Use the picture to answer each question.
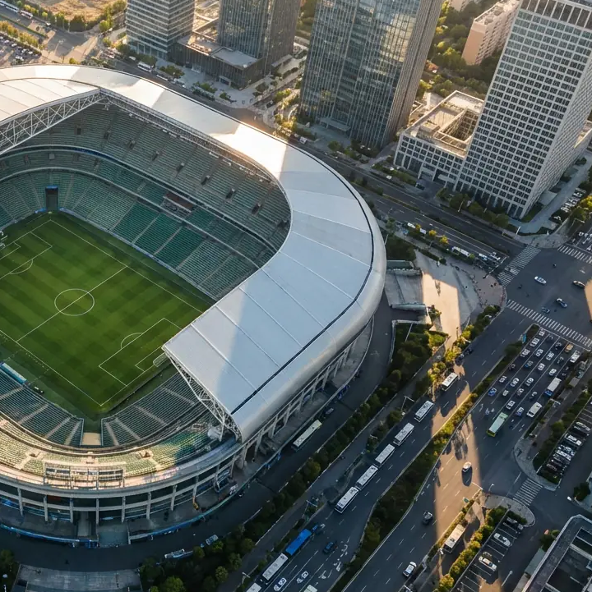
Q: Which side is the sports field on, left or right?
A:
left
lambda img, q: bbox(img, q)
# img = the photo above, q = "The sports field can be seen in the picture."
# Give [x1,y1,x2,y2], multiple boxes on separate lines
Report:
[0,216,207,415]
